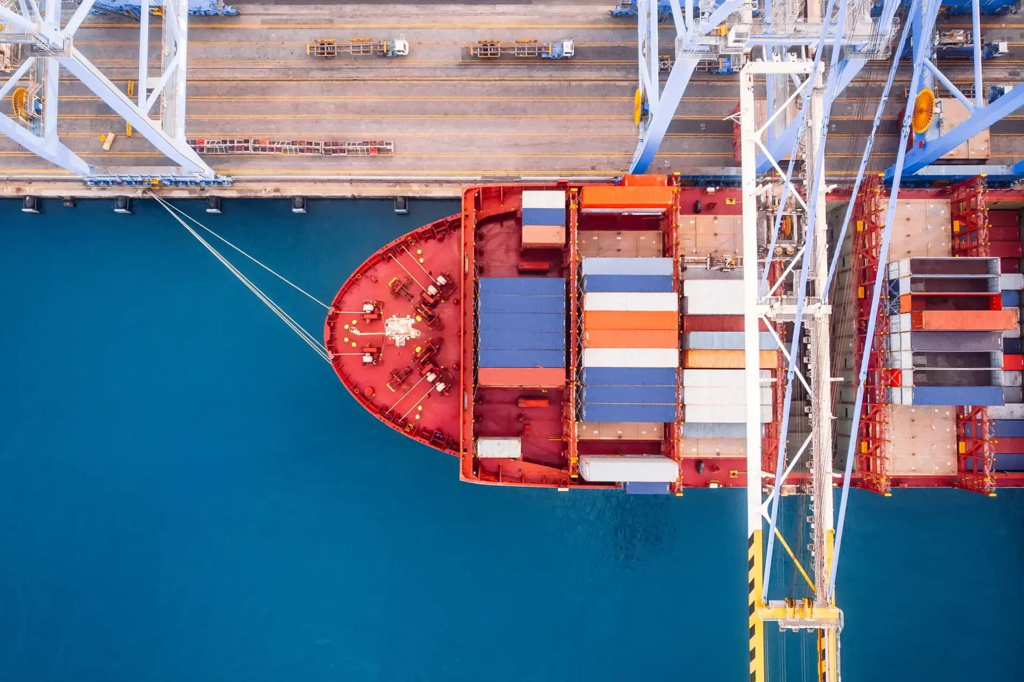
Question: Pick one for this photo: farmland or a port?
port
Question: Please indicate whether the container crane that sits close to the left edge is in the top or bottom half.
top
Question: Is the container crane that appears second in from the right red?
No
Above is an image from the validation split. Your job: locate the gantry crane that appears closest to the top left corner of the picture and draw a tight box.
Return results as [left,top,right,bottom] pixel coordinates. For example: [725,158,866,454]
[0,0,244,188]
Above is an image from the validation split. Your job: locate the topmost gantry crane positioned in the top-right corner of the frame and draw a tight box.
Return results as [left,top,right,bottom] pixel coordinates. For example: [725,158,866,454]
[862,0,1024,185]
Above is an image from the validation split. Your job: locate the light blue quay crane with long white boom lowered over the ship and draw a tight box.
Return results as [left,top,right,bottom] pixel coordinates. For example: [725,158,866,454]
[596,0,937,682]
